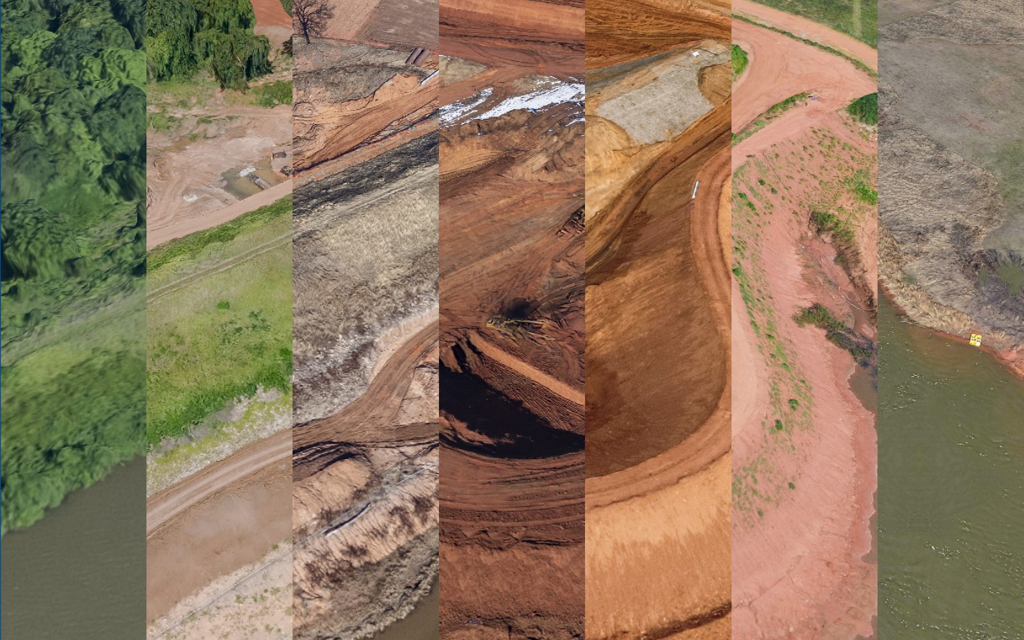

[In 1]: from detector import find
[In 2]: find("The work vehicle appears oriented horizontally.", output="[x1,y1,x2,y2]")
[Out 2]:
[485,315,545,331]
